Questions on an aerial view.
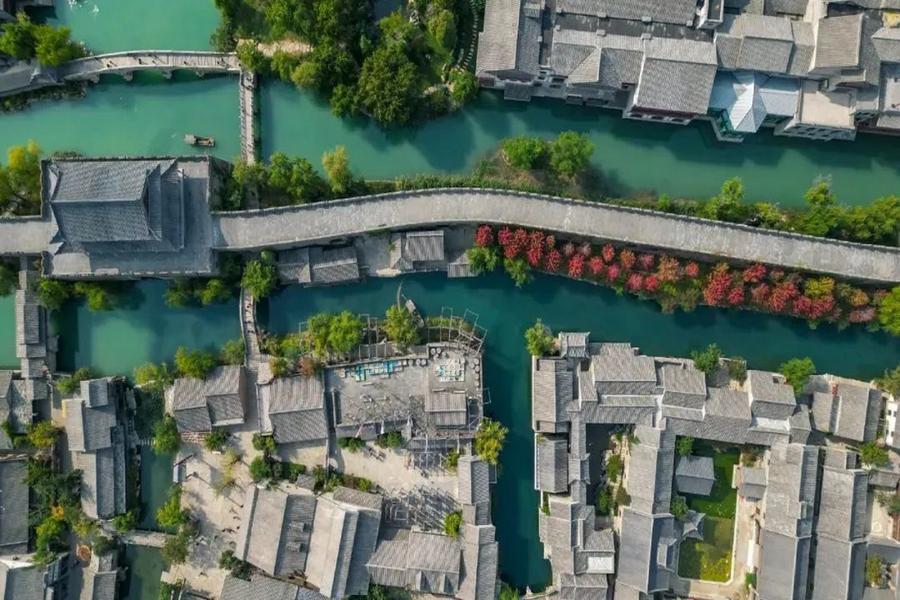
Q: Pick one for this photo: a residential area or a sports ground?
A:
residential area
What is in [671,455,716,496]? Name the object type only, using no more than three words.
building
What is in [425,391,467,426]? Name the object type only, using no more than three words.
shed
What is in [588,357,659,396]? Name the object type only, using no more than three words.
house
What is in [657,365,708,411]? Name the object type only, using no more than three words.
house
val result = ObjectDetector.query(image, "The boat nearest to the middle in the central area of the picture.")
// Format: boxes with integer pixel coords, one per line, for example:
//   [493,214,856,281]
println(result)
[403,290,425,327]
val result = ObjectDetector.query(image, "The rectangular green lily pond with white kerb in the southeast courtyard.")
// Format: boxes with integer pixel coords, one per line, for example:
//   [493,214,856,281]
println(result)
[678,516,737,583]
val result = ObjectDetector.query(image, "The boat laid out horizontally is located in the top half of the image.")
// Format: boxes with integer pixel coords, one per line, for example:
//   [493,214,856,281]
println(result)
[183,134,218,146]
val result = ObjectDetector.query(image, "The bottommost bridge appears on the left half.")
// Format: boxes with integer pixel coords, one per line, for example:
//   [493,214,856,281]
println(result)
[115,530,177,548]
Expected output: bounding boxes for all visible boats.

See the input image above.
[403,290,425,327]
[183,134,218,146]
